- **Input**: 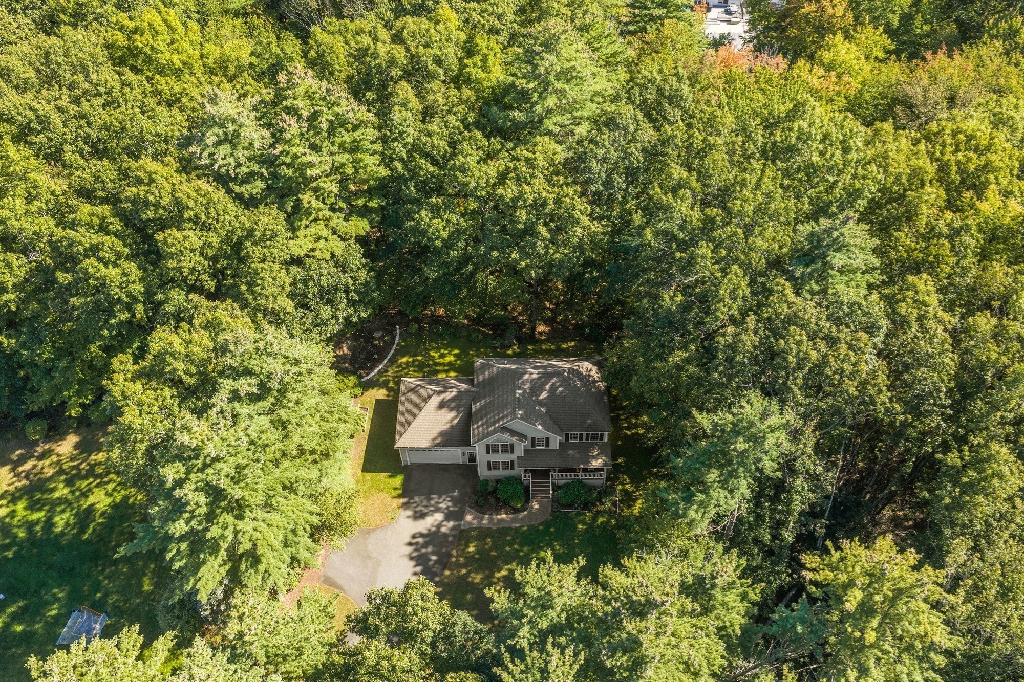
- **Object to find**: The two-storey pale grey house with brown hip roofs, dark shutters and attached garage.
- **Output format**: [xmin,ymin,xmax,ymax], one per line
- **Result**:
[393,356,612,500]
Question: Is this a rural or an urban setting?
rural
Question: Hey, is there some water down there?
No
